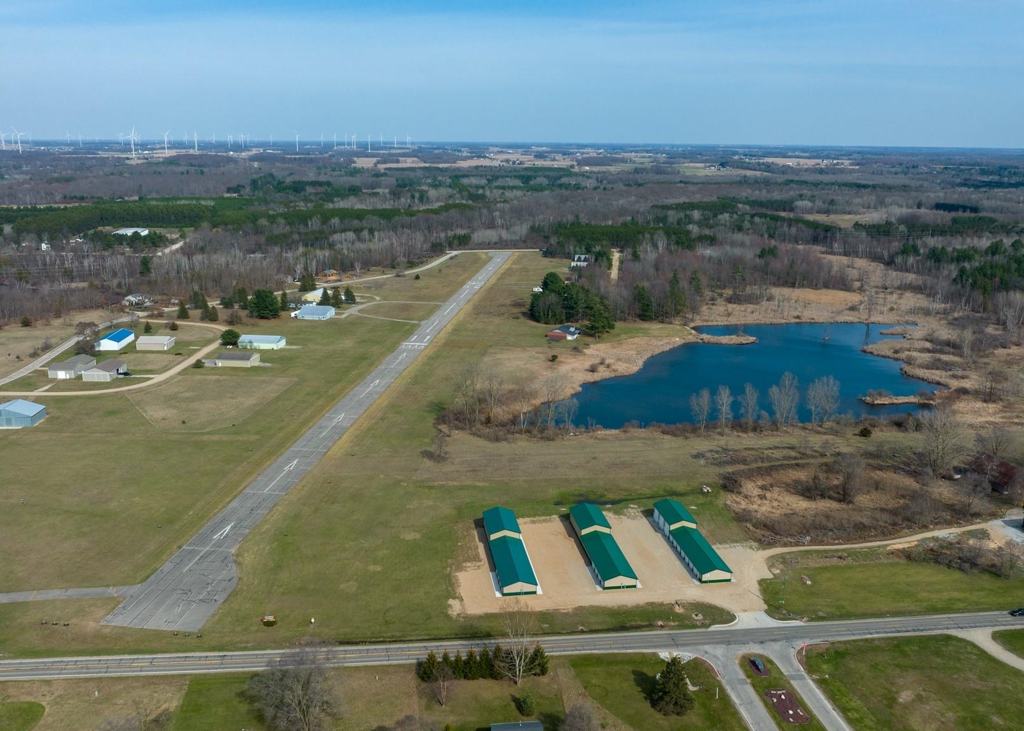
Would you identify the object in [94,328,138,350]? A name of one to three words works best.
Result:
hangar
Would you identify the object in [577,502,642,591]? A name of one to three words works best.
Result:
building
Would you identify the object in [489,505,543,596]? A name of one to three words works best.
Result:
building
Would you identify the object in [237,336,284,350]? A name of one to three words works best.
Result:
hangar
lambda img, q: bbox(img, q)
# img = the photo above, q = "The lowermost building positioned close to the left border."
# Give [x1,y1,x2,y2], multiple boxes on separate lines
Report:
[0,399,49,427]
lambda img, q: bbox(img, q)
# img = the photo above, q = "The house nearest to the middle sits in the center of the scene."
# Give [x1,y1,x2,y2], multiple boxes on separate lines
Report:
[547,325,575,341]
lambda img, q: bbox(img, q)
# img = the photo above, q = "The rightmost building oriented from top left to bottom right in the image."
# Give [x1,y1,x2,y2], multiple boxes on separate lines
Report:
[656,497,736,584]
